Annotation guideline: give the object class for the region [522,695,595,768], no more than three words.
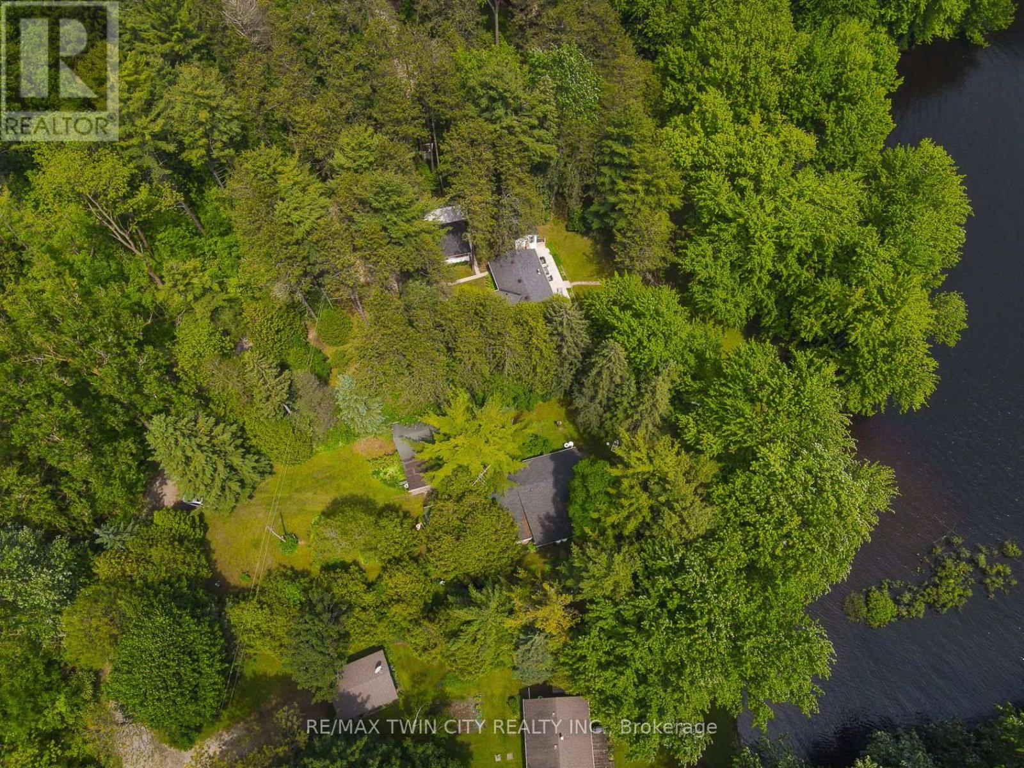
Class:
house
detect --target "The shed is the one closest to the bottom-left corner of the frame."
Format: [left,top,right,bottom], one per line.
[323,647,399,718]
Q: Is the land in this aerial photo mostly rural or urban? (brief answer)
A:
rural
